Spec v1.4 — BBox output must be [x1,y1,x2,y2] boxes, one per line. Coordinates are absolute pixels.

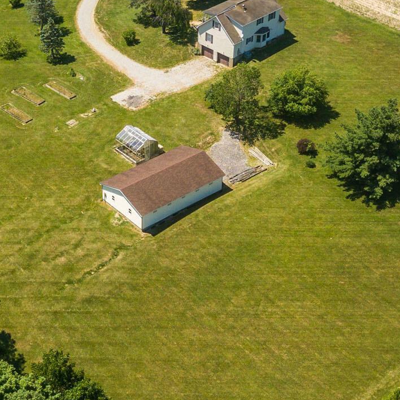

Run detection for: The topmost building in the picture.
[192,0,287,68]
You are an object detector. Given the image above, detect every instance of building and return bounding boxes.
[192,0,287,68]
[114,125,162,164]
[99,146,227,232]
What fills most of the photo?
grass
